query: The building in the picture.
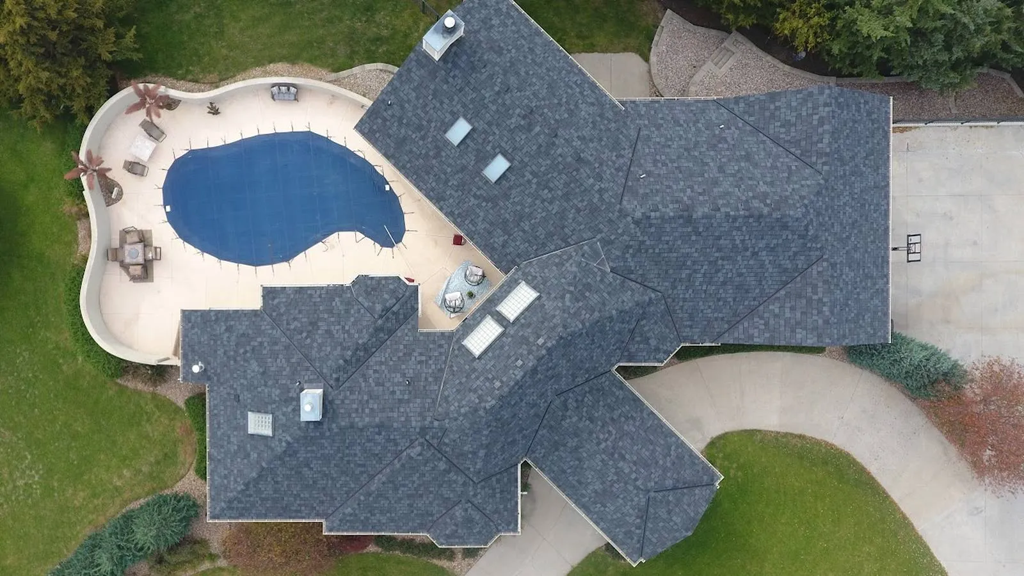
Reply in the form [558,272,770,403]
[179,0,894,567]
